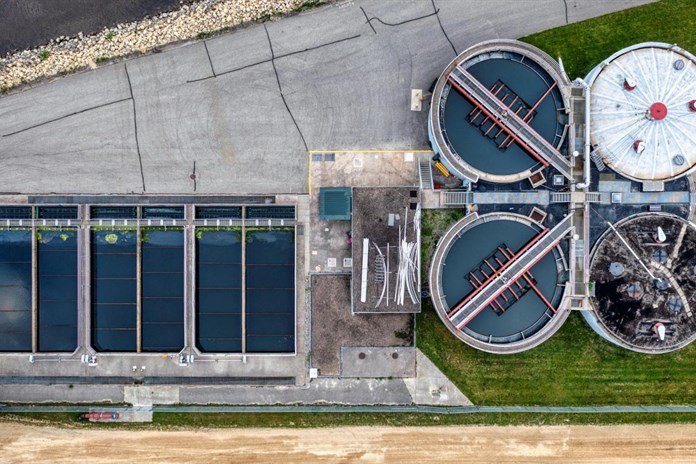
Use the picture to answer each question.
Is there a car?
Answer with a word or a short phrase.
No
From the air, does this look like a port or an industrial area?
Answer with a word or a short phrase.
industrial area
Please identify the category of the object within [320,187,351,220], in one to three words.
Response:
shed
